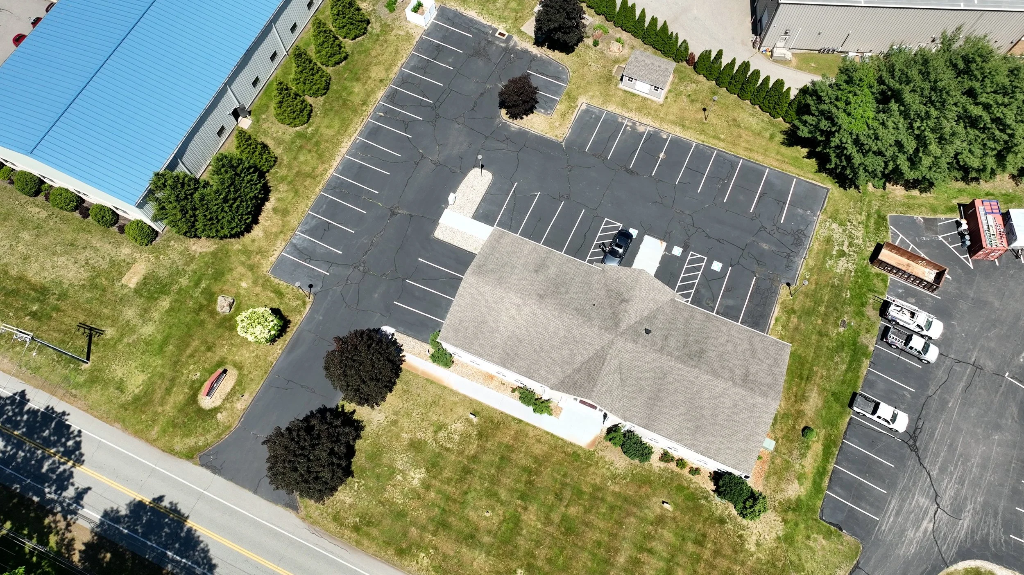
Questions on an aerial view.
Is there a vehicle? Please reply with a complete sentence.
Yes, a vehicle can be made out from above.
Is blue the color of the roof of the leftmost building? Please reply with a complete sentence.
Yes, blue is the color of the roof of the leftmost building.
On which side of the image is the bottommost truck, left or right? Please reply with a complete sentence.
The bottommost truck appears in the right half of the scene.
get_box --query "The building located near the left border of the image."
[0,0,325,233]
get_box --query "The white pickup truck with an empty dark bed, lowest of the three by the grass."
[850,392,909,433]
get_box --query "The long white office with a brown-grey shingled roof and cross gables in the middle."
[438,225,790,478]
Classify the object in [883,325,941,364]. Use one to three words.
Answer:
truck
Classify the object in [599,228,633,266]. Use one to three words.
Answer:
car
